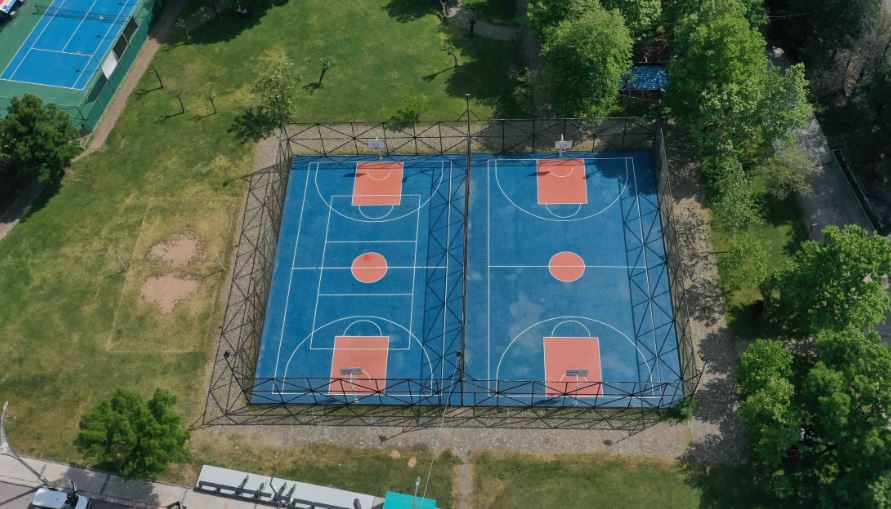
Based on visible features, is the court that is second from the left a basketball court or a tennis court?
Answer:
basketball court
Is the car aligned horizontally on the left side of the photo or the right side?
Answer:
left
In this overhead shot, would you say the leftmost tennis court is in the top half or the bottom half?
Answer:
top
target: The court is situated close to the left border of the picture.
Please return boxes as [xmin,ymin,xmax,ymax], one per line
[0,0,153,144]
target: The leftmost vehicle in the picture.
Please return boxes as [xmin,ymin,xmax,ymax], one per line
[30,480,94,509]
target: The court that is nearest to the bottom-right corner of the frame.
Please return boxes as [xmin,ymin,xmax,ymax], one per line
[463,152,687,407]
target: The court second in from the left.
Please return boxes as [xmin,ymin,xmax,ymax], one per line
[250,153,466,405]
